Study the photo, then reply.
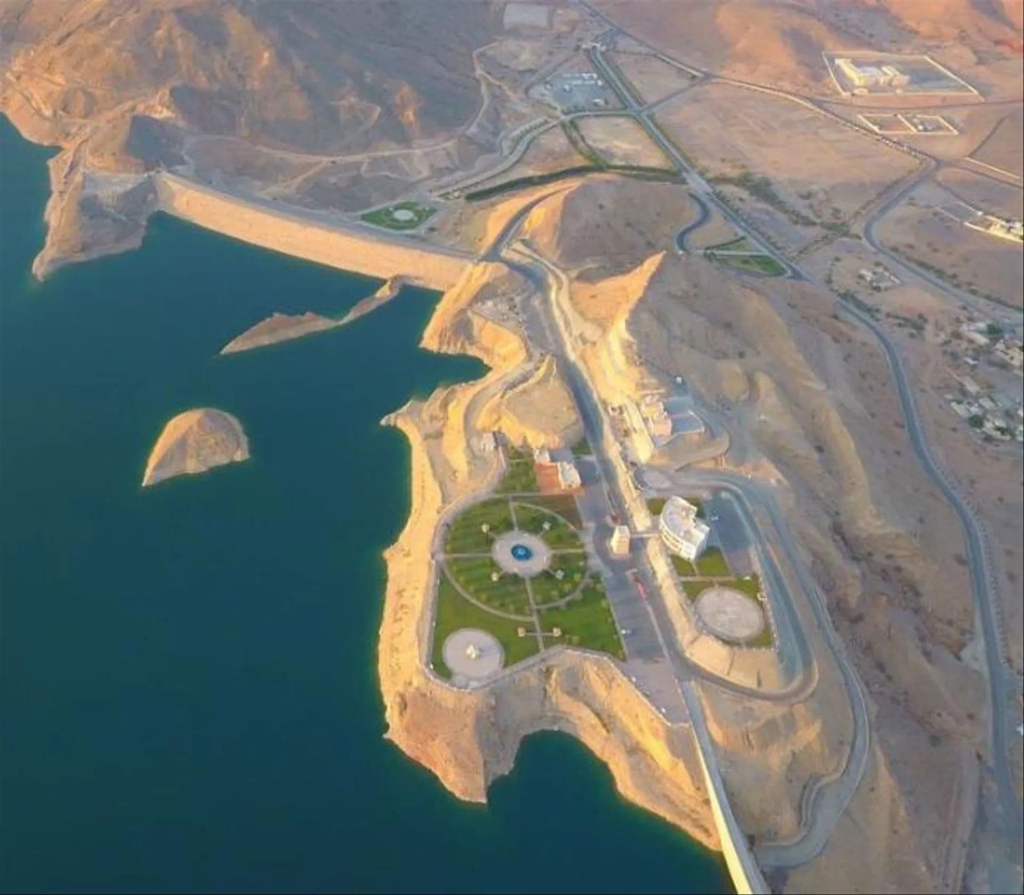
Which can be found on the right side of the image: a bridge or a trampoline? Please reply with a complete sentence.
What appears on the right side of the image is a bridge.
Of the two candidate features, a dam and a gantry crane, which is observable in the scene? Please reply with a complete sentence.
The one in the frame is a dam.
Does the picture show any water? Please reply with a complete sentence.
Yes, some water is visible.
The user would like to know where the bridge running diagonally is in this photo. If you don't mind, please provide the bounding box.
[678,167,719,200]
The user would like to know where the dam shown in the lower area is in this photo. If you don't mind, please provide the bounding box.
[694,727,772,895]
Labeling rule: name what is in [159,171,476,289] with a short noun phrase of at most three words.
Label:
dam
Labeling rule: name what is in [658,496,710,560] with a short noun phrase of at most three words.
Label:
building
